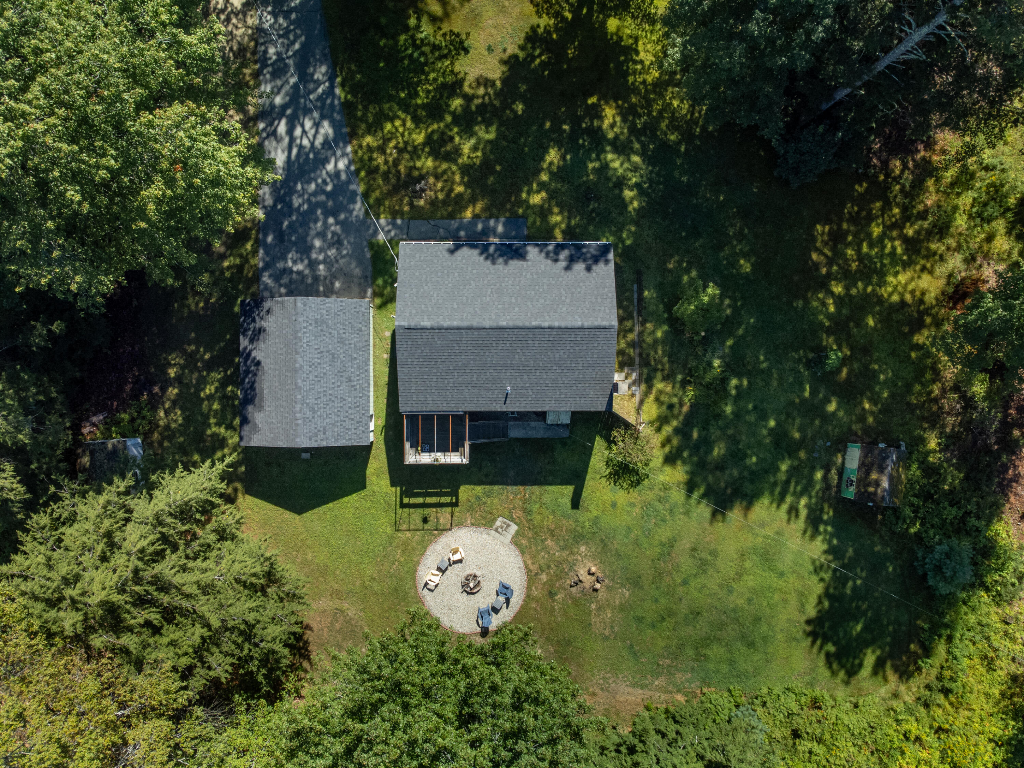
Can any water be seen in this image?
No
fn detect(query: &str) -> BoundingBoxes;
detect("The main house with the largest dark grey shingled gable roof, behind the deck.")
[391,239,628,416]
